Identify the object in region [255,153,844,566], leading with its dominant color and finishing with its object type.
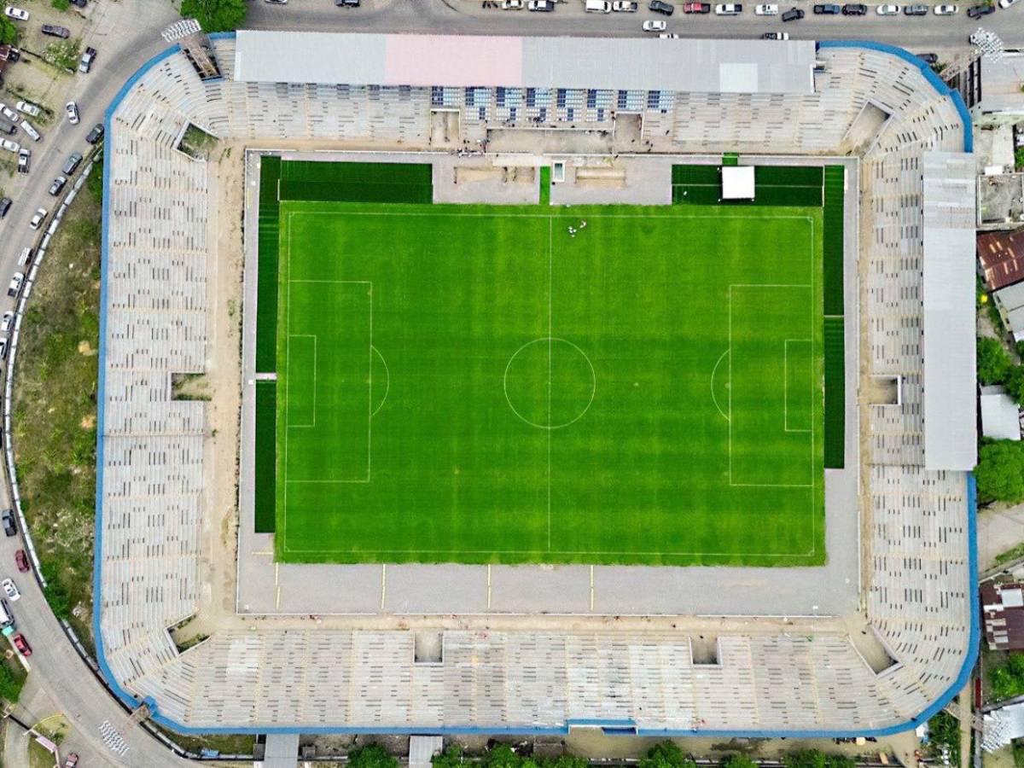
green soccer field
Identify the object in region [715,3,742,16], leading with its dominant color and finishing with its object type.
white vehicle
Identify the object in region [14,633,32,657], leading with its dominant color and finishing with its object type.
red car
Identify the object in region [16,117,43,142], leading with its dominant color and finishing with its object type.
white truck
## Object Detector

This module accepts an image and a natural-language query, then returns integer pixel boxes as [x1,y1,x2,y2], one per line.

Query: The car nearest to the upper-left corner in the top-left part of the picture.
[7,6,30,21]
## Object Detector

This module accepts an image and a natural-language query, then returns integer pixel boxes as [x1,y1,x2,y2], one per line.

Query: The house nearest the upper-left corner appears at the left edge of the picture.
[0,46,29,79]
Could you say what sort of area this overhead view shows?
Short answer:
sports ground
